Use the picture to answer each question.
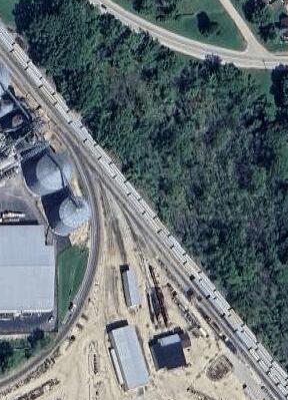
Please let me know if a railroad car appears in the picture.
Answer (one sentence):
Yes, a railroad car appears in the view.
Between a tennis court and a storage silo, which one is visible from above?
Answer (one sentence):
The one in the frame is a storage silo.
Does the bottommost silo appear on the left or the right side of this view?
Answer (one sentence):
The bottommost silo is on the left side of the image.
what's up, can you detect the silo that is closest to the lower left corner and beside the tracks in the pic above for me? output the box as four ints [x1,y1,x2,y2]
[55,199,90,235]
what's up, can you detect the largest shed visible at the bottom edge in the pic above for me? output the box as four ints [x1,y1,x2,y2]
[110,325,149,390]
